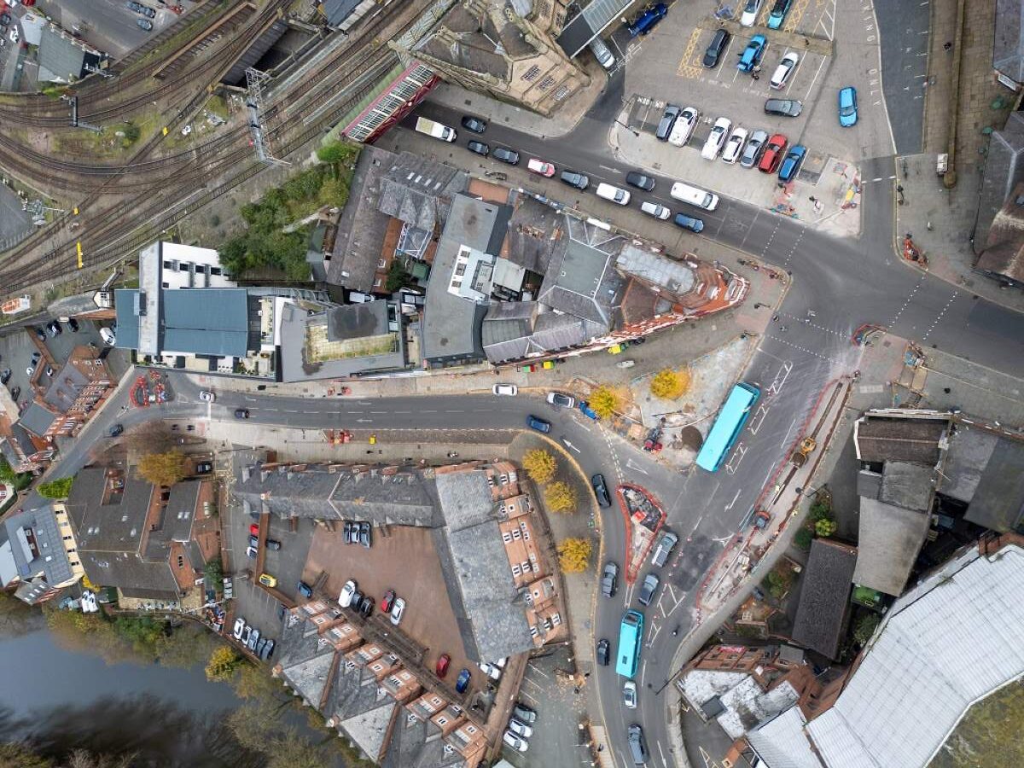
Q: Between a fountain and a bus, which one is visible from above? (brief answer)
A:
bus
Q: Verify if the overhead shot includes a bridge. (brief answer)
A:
Yes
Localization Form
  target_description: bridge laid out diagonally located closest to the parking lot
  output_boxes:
[338,58,442,144]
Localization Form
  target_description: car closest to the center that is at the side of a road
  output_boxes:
[493,382,518,397]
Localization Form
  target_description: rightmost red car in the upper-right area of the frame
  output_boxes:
[757,136,786,172]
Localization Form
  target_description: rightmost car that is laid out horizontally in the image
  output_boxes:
[764,97,803,116]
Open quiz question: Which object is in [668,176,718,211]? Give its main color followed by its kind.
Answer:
white van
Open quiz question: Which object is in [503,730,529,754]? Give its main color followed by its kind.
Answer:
white car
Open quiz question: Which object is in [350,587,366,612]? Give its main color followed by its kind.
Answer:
black car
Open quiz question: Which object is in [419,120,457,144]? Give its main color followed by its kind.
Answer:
white truck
